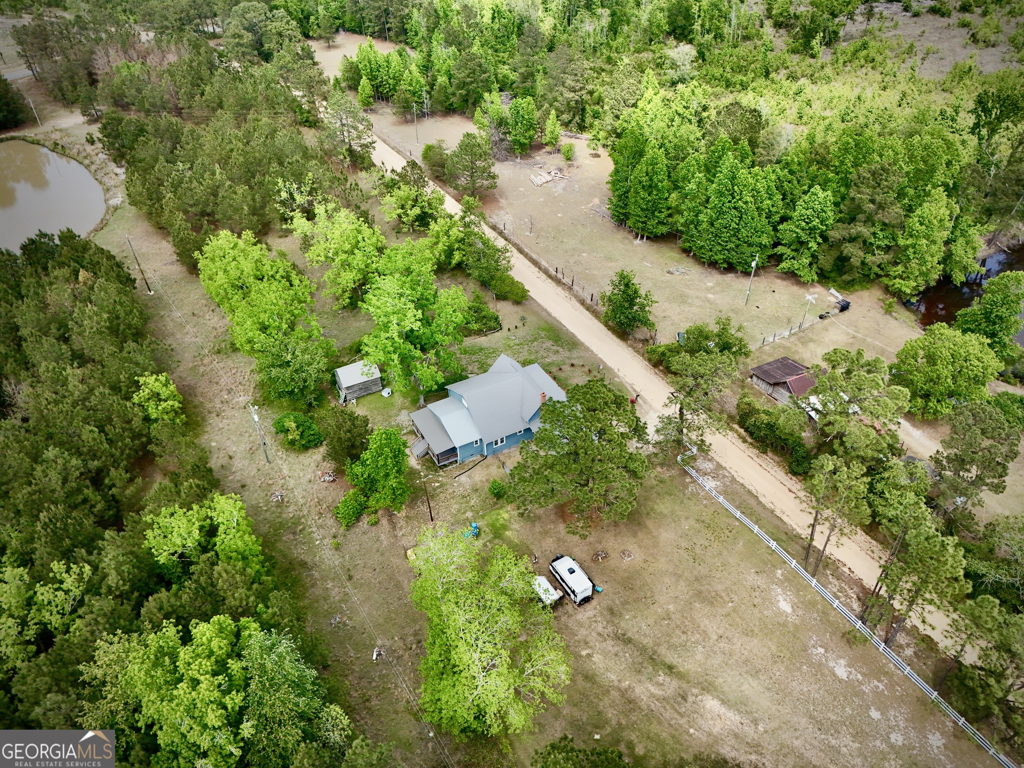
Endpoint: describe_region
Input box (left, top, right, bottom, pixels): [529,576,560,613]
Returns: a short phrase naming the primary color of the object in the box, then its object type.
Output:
white trailer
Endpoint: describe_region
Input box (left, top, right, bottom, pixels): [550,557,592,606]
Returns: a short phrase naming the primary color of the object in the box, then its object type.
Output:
white vehicle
